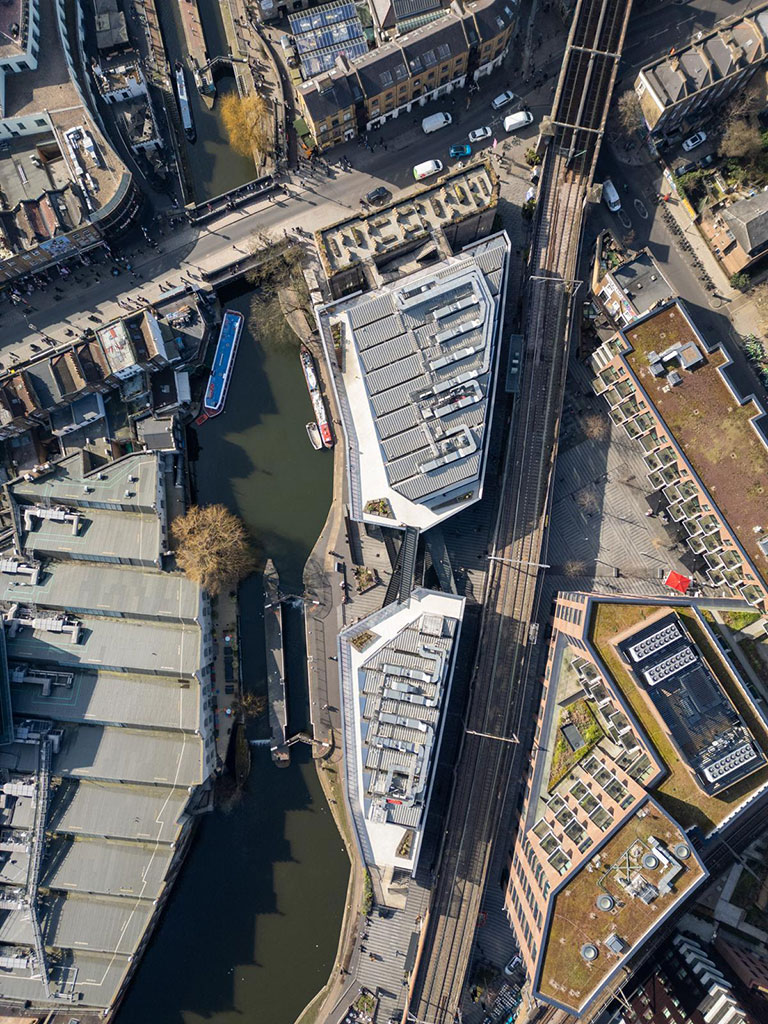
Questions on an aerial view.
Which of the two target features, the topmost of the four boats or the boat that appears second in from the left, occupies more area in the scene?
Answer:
the boat that appears second in from the left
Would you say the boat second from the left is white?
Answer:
No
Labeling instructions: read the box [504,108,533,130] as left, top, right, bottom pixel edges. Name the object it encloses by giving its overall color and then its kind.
white vehicle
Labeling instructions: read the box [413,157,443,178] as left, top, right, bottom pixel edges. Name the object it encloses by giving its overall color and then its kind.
white vehicle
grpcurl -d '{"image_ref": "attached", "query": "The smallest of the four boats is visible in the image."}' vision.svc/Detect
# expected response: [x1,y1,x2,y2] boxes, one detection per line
[307,422,321,447]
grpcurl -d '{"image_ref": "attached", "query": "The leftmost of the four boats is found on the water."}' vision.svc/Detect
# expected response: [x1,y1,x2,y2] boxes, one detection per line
[171,59,198,143]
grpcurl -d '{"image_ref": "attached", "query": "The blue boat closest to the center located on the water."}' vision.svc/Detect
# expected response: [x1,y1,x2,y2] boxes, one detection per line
[202,307,246,415]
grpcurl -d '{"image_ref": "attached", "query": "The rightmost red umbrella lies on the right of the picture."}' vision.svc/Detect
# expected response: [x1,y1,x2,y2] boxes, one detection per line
[665,571,690,593]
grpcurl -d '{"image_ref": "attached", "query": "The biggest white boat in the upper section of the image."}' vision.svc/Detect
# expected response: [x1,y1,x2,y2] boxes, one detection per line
[296,341,332,447]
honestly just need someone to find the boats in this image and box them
[202,307,246,415]
[296,341,332,447]
[171,59,198,143]
[307,422,321,447]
